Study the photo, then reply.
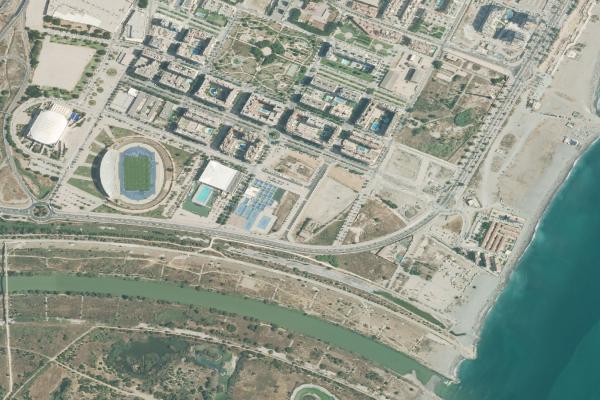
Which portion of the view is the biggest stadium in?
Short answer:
left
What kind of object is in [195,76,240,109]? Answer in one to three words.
building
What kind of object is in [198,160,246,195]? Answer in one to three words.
building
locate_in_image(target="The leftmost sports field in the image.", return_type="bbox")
[125,155,150,191]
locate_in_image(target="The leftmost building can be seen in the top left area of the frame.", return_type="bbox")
[54,6,103,25]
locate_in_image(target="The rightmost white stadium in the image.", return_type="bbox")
[100,136,175,213]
